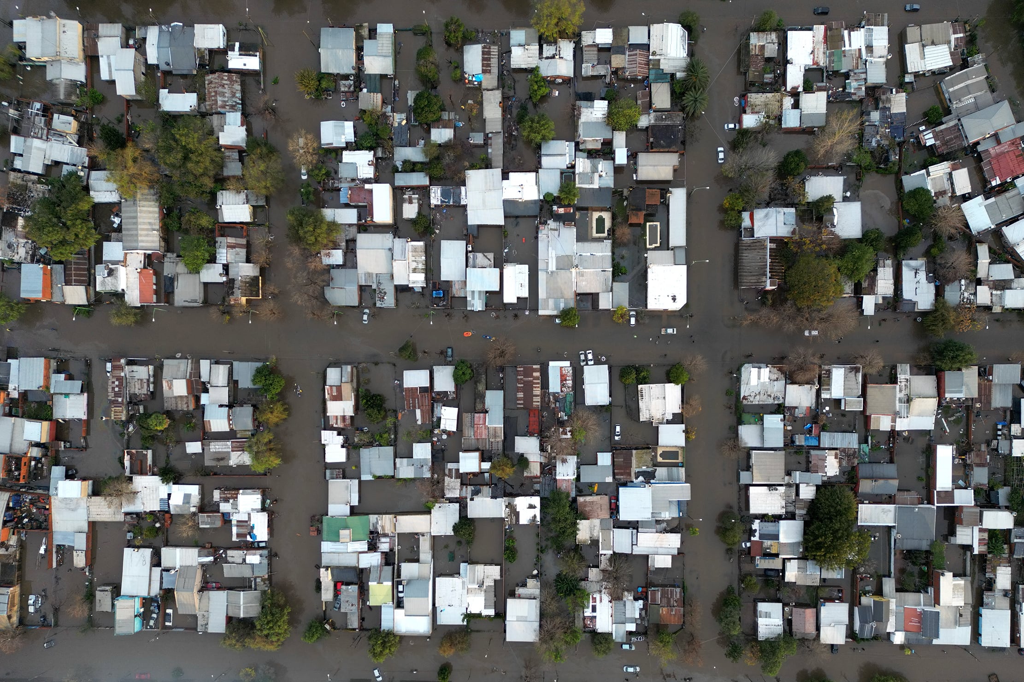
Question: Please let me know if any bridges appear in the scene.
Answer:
No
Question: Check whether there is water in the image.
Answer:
Yes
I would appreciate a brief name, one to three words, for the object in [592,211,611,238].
swimming pool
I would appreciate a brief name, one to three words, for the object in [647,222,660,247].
swimming pool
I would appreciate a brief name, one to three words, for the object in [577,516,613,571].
shed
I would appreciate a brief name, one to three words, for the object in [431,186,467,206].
house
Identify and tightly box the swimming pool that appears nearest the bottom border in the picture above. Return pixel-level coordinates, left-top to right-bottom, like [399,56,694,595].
[657,447,684,462]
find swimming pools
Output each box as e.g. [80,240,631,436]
[592,211,611,238]
[657,447,684,462]
[647,222,660,247]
